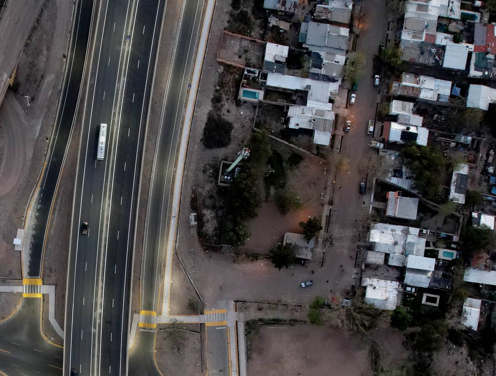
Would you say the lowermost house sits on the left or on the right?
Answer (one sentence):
The lowermost house is on the right side of the image.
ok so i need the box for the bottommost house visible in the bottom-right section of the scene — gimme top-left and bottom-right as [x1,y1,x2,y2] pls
[457,297,482,328]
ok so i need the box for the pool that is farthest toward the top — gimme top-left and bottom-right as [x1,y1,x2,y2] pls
[460,9,480,22]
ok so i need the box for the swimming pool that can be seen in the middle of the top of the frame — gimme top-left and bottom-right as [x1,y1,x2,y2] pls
[238,87,263,100]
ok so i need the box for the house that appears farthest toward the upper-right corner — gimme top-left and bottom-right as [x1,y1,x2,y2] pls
[468,24,496,55]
